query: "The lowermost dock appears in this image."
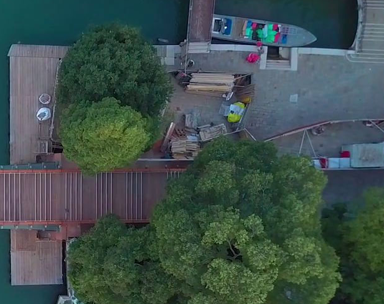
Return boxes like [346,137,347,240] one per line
[9,232,63,284]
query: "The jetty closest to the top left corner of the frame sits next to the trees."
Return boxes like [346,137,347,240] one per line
[9,55,61,164]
